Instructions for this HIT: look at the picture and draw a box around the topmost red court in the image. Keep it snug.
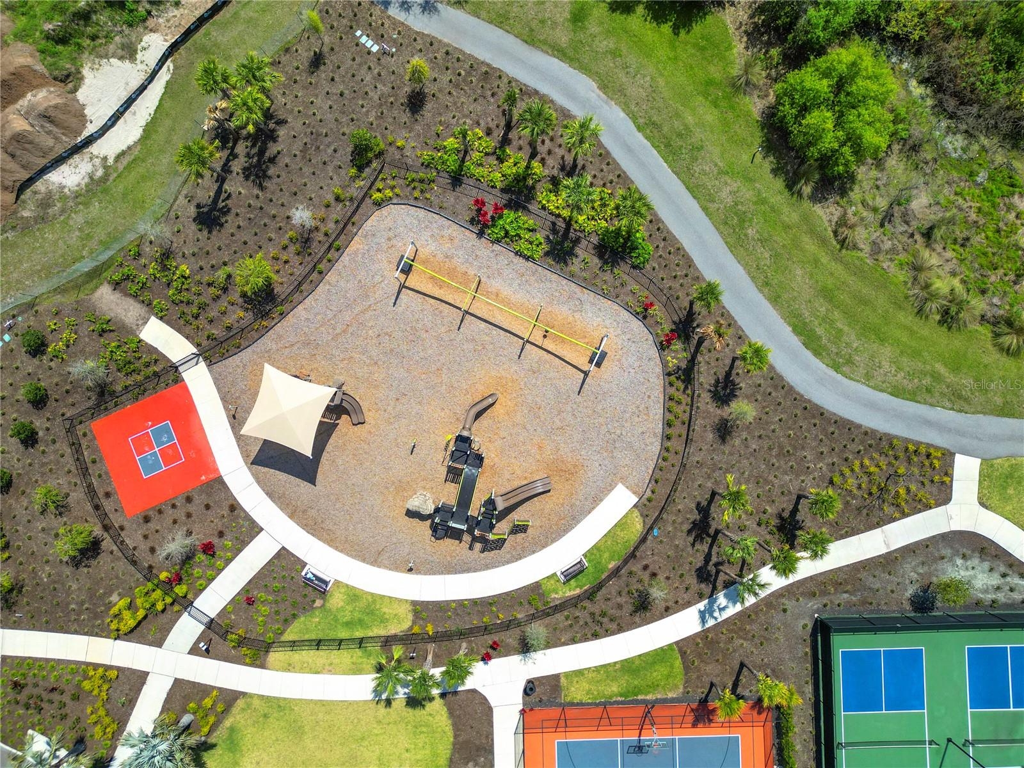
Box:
[91,382,221,518]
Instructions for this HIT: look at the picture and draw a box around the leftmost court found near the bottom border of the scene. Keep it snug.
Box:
[524,704,770,768]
